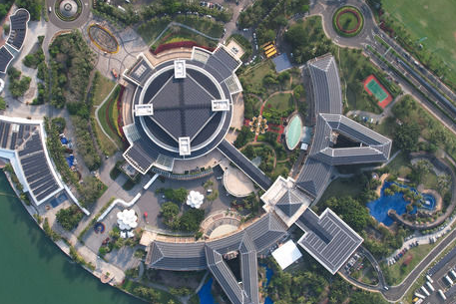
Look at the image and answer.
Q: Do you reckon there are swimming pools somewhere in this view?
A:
Yes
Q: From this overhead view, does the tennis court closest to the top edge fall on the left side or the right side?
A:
right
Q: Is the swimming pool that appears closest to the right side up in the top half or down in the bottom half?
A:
bottom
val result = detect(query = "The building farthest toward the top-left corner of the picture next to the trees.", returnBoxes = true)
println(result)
[6,8,32,53]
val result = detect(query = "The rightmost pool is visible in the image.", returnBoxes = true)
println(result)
[418,185,440,213]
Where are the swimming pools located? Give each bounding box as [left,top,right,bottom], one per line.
[418,185,440,213]
[285,113,304,151]
[50,195,70,209]
[367,179,420,227]
[261,265,275,304]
